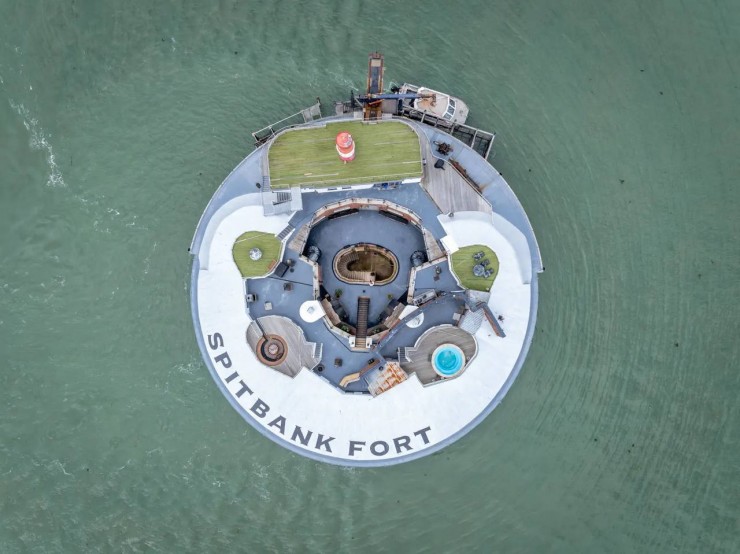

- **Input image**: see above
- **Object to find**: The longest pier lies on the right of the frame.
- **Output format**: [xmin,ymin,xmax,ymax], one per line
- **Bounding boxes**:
[399,106,499,160]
